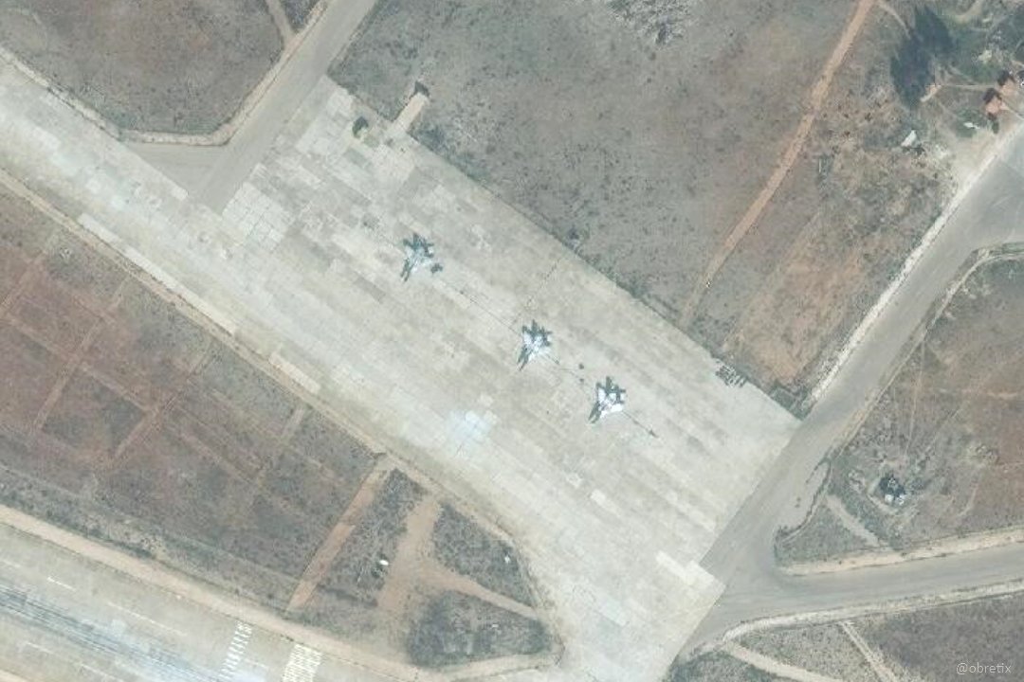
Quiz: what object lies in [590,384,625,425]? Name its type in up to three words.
airplane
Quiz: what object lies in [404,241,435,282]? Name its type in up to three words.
airplane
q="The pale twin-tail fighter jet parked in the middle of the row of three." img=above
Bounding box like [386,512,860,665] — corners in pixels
[519,328,551,371]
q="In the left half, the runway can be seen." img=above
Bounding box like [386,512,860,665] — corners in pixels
[0,523,396,682]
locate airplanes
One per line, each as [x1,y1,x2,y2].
[590,384,625,425]
[404,241,435,282]
[519,328,551,371]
